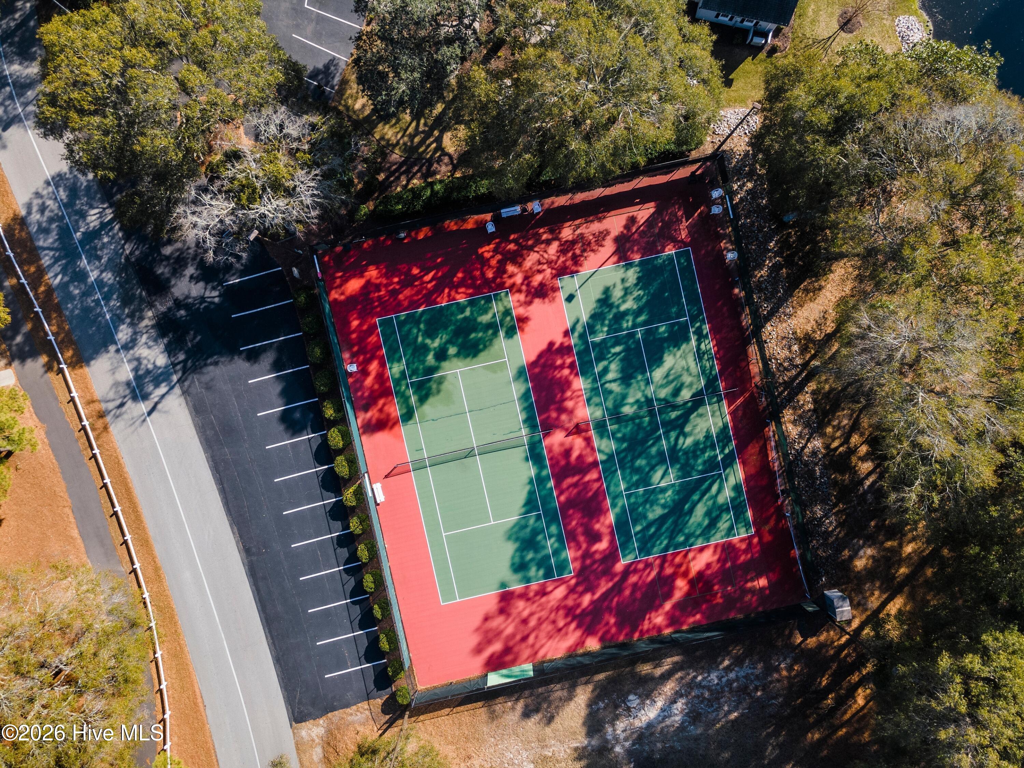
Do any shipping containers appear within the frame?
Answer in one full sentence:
No, I can't see a single shipping container in this photo.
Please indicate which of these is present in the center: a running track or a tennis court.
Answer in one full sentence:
The one visible in the center is a tennis court.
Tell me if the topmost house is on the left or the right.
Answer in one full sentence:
The topmost house sits on the right side.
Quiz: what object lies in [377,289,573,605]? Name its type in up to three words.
tennis court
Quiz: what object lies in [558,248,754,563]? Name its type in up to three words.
tennis court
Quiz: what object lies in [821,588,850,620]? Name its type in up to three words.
shed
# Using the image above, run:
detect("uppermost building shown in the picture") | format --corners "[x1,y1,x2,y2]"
[697,0,801,54]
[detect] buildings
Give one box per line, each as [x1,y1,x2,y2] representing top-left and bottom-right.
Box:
[821,588,850,620]
[697,0,801,54]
